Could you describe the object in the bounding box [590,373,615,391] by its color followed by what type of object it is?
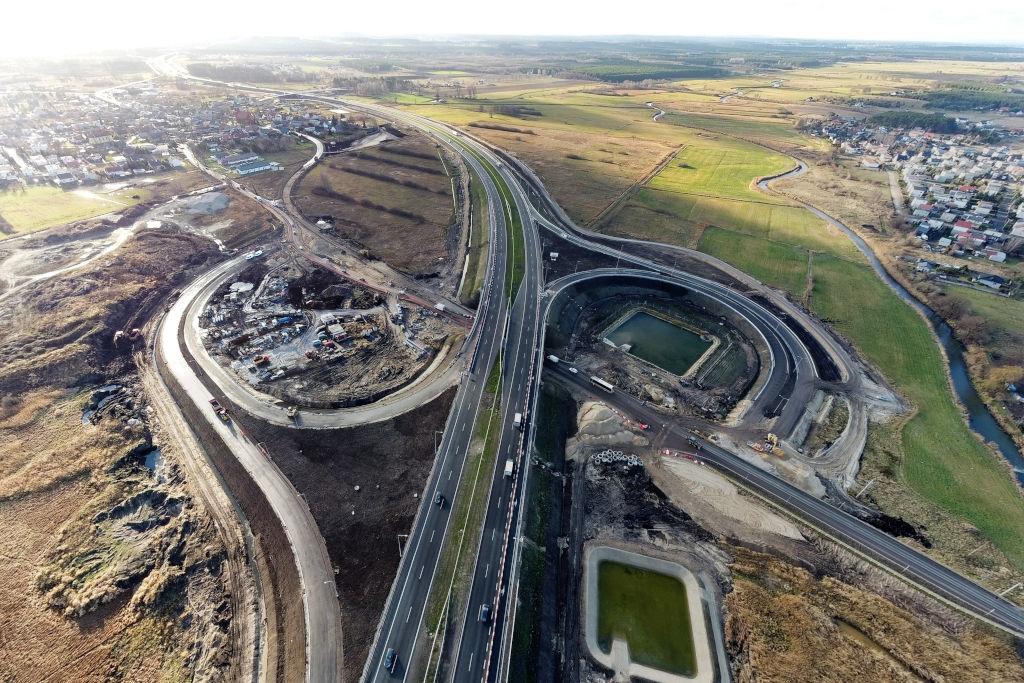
white vehicle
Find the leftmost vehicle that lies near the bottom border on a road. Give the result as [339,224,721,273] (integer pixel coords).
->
[383,648,395,671]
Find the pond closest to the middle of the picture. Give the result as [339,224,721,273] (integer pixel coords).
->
[609,314,708,374]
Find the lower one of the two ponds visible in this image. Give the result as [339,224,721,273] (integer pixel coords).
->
[598,560,697,677]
